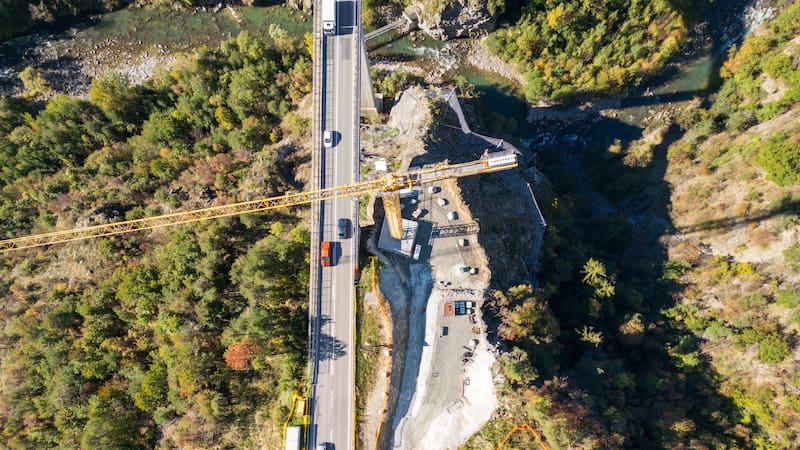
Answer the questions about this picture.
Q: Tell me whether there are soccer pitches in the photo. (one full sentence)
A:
No, there is no soccer pitch in the image.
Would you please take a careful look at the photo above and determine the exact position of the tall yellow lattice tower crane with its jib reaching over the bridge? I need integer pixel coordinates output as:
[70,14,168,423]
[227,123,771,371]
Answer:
[0,152,520,252]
